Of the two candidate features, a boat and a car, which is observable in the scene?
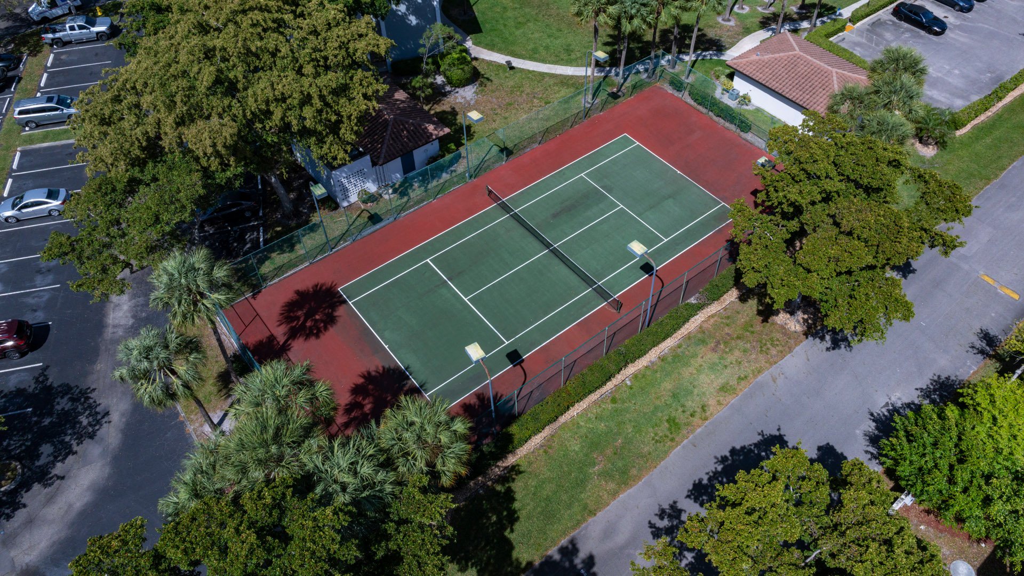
car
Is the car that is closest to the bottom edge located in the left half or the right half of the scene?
left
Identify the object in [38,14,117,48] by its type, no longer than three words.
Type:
truck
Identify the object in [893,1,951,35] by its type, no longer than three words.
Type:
car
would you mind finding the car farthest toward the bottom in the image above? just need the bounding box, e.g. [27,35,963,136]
[0,319,32,362]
